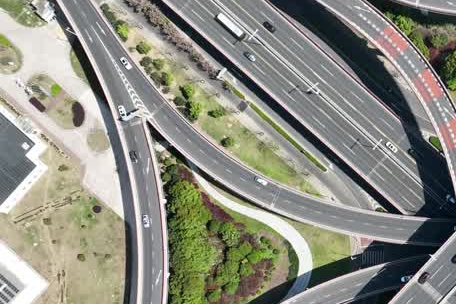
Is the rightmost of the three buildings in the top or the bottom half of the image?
top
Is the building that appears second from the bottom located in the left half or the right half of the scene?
left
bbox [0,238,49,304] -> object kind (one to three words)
building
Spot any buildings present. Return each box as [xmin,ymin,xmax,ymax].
[0,238,49,304]
[34,0,64,23]
[0,101,49,219]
